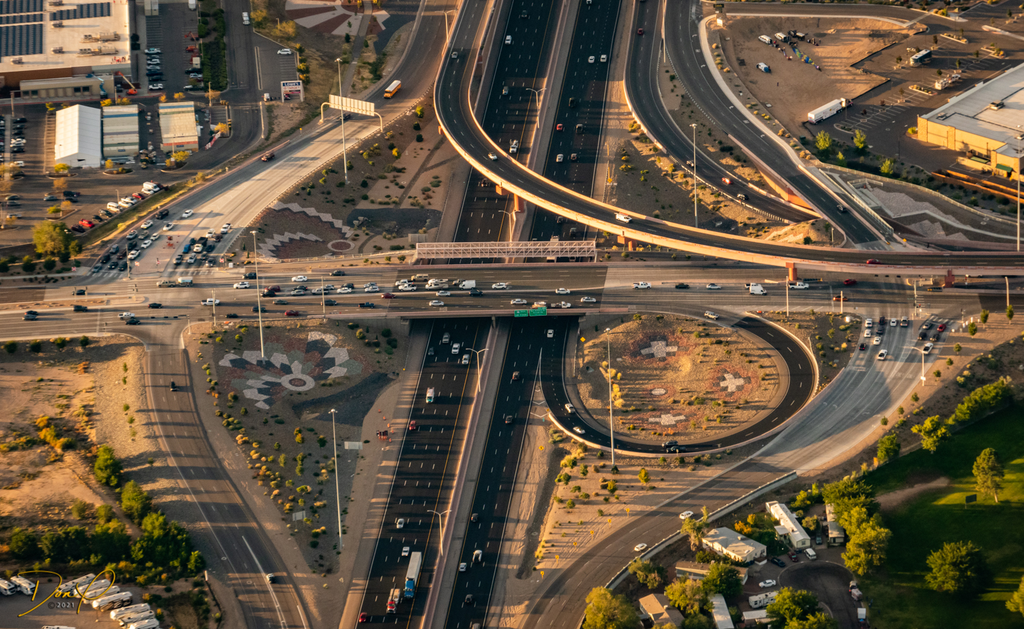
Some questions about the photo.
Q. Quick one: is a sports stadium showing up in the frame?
No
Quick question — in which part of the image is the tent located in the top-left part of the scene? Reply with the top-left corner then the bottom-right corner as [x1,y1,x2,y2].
[54,104,101,168]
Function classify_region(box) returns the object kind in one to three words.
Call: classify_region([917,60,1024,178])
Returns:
building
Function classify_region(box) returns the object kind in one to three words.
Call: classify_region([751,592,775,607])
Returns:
vehicle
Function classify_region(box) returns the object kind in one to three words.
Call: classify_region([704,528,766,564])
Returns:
house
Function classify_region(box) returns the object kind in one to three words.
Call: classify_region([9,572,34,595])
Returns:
camper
